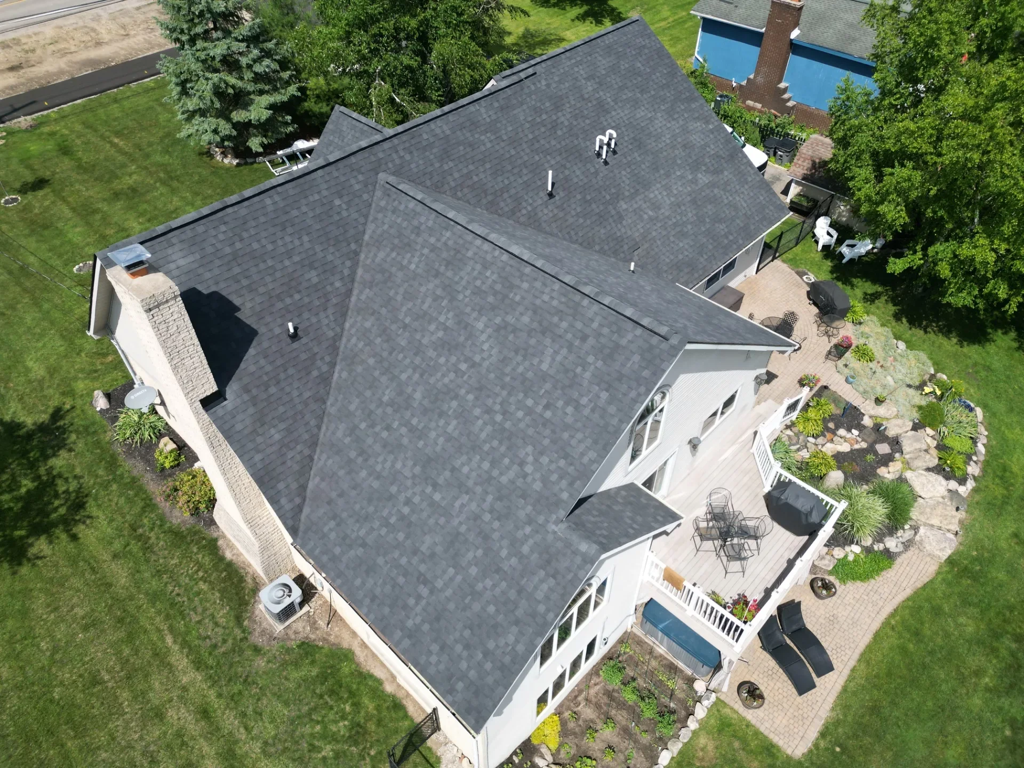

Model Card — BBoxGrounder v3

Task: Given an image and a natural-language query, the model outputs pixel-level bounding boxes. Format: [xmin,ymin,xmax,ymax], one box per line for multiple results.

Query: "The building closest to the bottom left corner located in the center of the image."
[86,18,799,768]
